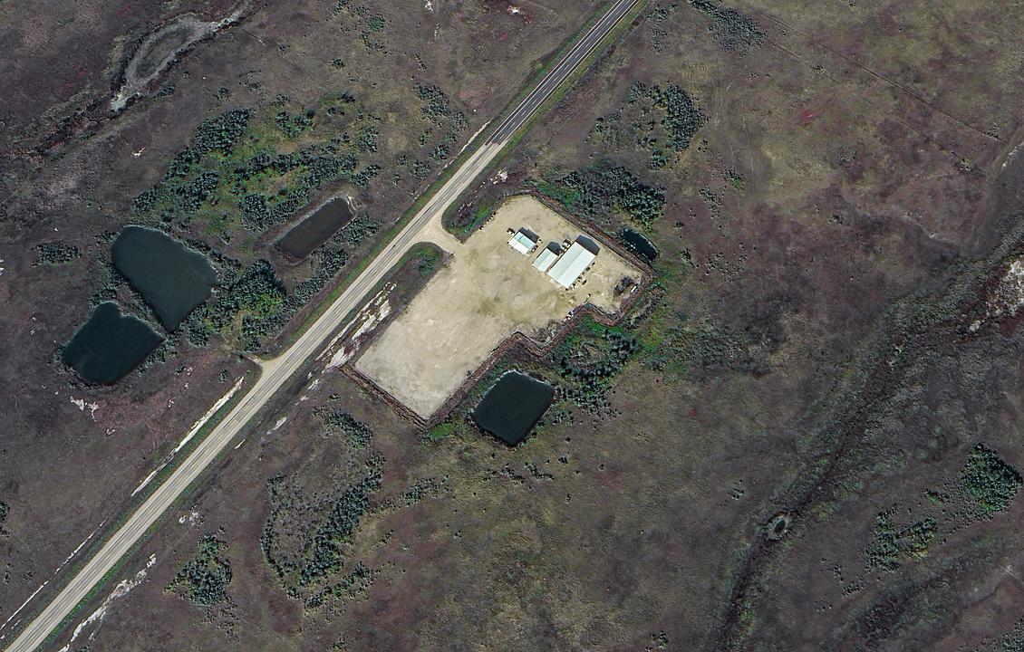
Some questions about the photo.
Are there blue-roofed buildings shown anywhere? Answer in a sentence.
No, this view has no blue-roofed building in it.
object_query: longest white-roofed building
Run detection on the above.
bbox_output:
[549,241,595,290]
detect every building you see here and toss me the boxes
[509,230,535,255]
[533,247,558,273]
[549,241,595,290]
